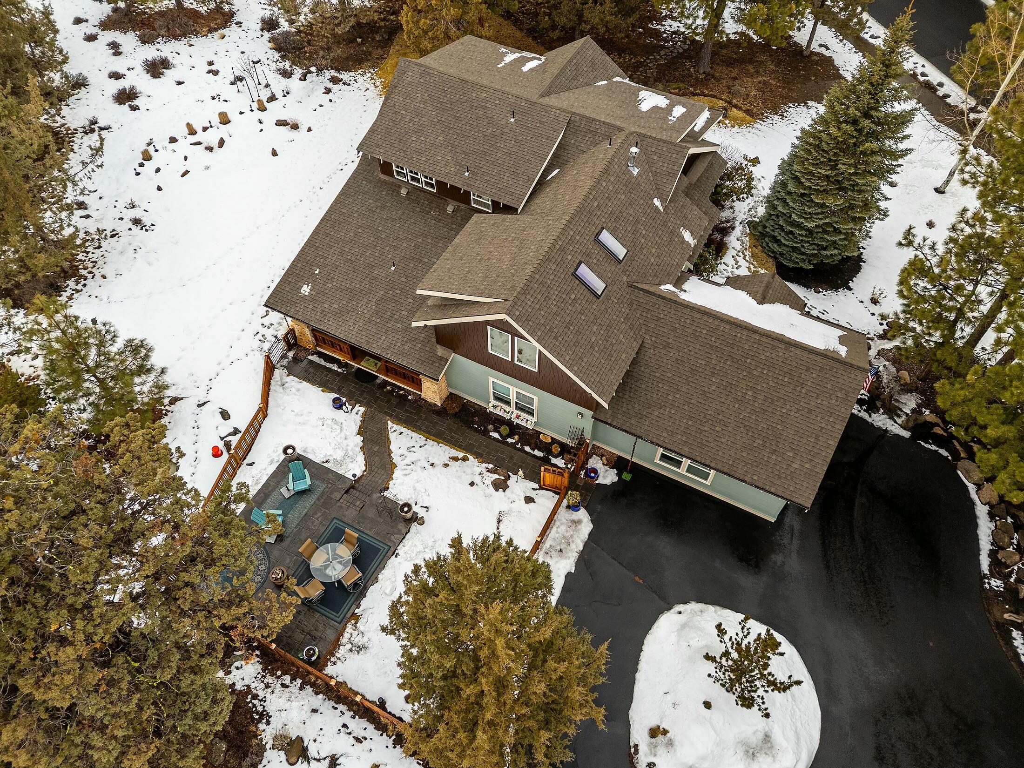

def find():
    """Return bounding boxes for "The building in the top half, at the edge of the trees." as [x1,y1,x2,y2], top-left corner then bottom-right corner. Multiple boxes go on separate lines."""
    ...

[263,34,869,522]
